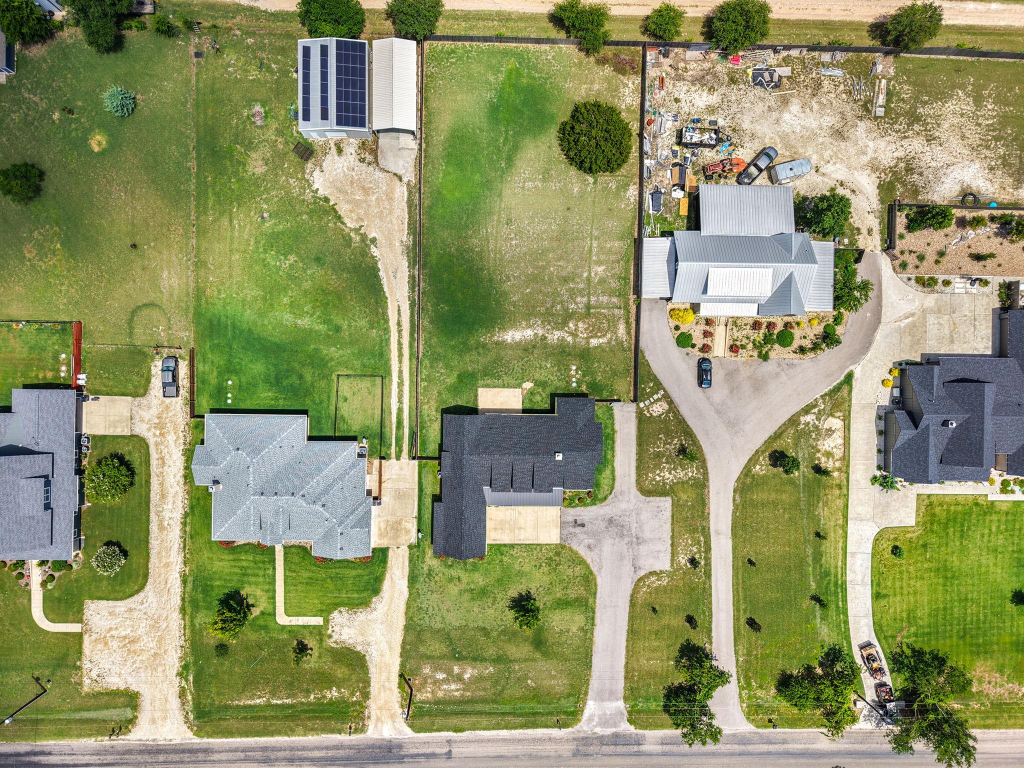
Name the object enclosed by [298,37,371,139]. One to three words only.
barn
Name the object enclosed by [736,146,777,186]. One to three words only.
truck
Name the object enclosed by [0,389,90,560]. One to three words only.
house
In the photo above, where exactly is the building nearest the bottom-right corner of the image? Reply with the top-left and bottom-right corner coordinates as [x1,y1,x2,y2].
[881,310,1024,484]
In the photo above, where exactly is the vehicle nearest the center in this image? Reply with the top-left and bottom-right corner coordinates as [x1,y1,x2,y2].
[698,358,715,390]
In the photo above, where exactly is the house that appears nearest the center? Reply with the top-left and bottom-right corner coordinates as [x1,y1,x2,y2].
[433,397,604,558]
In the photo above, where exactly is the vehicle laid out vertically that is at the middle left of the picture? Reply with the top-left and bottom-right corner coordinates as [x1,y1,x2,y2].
[161,357,178,399]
